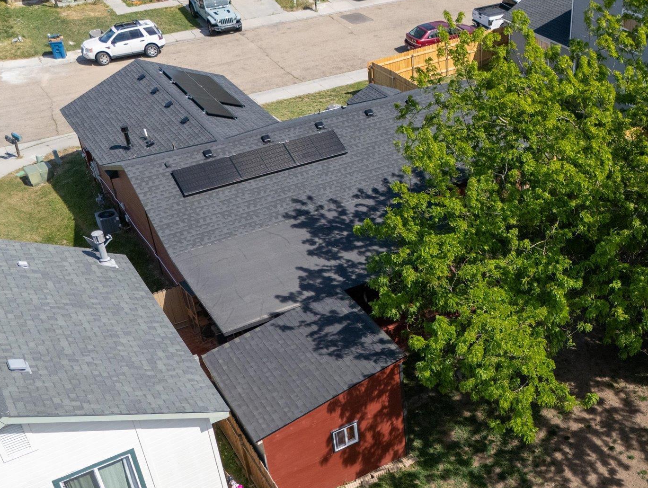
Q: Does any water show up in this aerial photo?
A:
No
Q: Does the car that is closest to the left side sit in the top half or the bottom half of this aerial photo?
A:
top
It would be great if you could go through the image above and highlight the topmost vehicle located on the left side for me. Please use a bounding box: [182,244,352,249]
[189,0,237,31]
